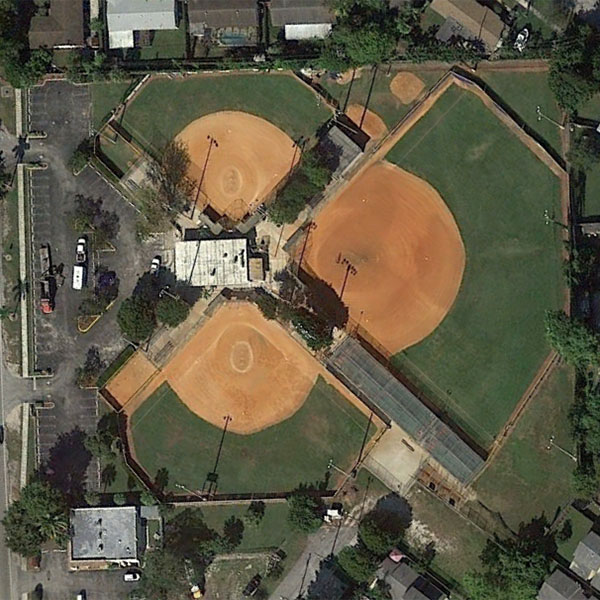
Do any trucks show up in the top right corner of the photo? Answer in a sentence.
No, no truck is visible in the top right corner of the photo.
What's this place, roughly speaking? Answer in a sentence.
It's a sports ground.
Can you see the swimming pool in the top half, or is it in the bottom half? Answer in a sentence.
Seen from above, the swimming pool lies in the top half of the view.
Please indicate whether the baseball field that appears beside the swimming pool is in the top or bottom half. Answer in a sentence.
The baseball field that appears beside the swimming pool sits in the top half of the picture.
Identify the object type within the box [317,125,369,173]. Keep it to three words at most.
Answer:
shed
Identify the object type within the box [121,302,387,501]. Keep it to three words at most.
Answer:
baseball field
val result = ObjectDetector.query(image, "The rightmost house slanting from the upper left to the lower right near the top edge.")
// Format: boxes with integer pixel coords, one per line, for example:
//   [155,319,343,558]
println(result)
[428,0,506,54]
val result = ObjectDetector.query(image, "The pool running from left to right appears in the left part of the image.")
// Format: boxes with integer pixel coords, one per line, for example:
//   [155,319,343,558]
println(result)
[204,26,258,47]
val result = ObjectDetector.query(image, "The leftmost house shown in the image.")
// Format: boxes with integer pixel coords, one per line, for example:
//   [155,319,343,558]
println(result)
[50,0,86,47]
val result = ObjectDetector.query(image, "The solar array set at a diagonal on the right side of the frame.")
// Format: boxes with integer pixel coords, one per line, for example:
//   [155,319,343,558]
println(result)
[413,577,449,600]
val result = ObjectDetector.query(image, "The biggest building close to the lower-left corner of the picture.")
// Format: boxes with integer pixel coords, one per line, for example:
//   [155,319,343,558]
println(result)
[70,506,143,569]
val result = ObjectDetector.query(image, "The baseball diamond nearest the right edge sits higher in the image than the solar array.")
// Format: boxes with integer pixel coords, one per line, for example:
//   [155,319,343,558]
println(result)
[296,74,572,473]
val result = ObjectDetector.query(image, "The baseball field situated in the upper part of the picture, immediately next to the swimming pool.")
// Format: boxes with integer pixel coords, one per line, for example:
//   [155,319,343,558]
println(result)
[119,71,340,218]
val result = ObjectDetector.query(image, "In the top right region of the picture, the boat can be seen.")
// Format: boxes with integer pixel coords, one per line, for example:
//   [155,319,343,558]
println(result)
[512,26,527,49]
